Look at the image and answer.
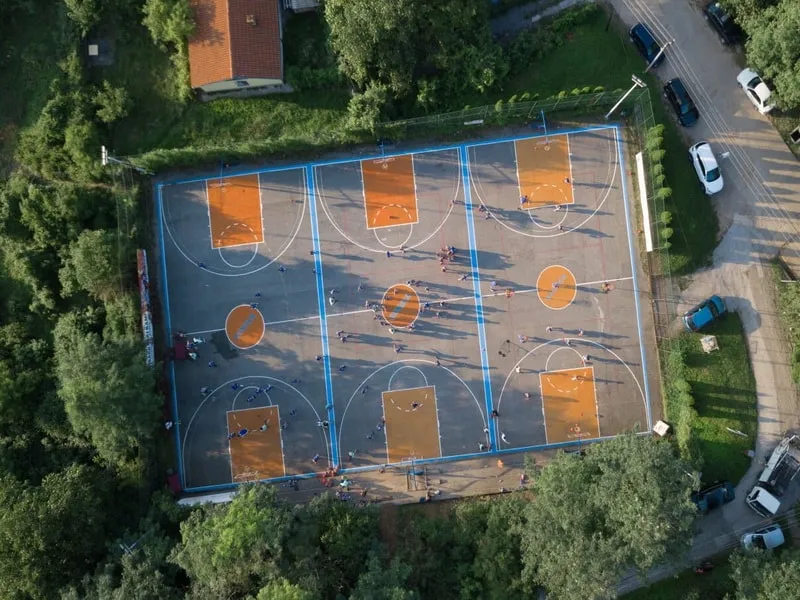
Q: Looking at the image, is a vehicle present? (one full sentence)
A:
Yes, a vehicle appears in the view.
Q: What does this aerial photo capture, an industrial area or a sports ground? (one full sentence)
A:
This looks like a sports ground.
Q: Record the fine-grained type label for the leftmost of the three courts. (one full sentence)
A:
The leftmost of the three courts can be classified as a basketball court.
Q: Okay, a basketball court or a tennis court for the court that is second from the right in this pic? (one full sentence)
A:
What you see as the court that is second from the right is a basketball court.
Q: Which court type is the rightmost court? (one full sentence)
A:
From above, the rightmost court can be identified as a basketball court.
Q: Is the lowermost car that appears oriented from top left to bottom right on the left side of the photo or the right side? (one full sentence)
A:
You can find the lowermost car that appears oriented from top left to bottom right on the right side of the picture.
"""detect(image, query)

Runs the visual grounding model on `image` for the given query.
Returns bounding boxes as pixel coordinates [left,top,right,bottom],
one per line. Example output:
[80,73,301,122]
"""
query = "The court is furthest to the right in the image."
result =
[465,126,653,452]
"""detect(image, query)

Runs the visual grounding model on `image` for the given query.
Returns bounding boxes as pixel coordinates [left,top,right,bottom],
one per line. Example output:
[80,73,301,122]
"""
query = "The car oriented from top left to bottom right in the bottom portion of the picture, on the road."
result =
[735,481,788,522]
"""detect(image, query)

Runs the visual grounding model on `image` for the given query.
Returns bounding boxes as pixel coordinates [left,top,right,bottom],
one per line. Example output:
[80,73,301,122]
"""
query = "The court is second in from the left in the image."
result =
[310,145,496,473]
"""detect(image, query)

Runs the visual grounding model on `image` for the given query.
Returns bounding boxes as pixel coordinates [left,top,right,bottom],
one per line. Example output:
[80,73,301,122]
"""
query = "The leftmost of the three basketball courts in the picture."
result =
[155,164,339,491]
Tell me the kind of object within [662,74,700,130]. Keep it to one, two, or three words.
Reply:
car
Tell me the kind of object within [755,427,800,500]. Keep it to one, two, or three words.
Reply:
trailer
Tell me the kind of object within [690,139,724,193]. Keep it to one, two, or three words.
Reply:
car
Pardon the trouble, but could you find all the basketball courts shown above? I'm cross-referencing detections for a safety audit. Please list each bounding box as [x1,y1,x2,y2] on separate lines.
[465,126,653,452]
[310,145,496,473]
[155,164,339,491]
